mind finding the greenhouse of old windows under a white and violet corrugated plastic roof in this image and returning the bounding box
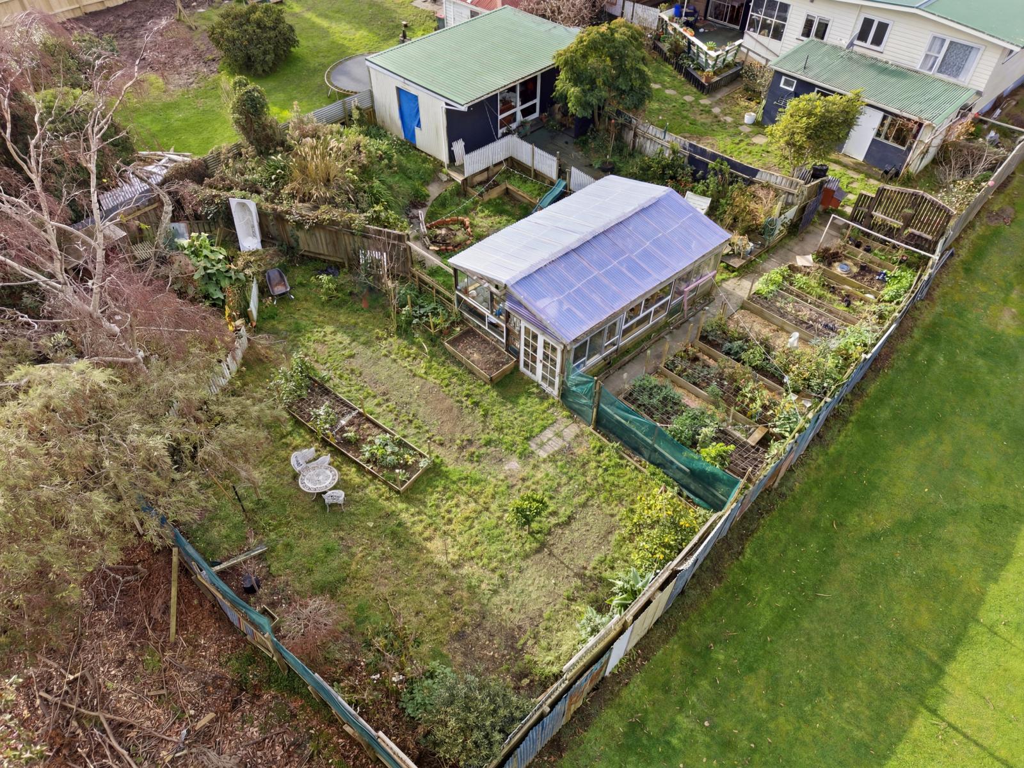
[443,175,727,396]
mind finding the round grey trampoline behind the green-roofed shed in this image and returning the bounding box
[323,59,372,108]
